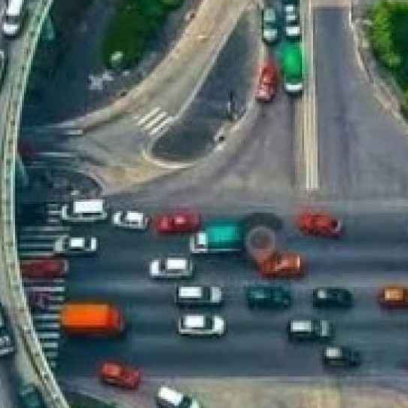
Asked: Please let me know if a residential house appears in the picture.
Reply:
No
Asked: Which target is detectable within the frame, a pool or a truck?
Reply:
truck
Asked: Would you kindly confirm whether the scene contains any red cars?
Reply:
Yes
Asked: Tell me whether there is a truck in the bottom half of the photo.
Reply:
Yes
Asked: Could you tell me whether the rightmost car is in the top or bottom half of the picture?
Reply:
bottom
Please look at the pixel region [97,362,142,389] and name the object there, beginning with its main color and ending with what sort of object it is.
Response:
red car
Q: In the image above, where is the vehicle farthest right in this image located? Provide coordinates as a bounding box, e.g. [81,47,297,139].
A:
[378,286,408,309]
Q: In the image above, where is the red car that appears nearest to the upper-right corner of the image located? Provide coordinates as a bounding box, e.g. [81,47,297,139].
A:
[257,66,276,100]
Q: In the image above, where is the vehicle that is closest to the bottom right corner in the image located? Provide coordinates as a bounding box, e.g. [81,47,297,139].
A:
[320,346,363,369]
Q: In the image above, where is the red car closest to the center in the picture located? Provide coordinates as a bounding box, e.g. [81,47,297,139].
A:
[153,213,200,235]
